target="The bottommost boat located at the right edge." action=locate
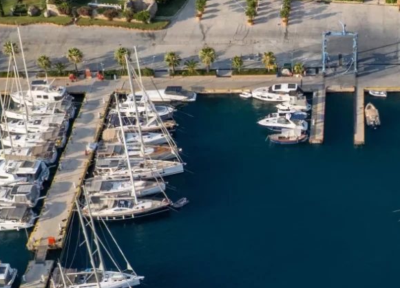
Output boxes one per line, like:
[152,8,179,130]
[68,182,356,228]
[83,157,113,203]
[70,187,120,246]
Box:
[363,98,381,129]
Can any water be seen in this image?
Yes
